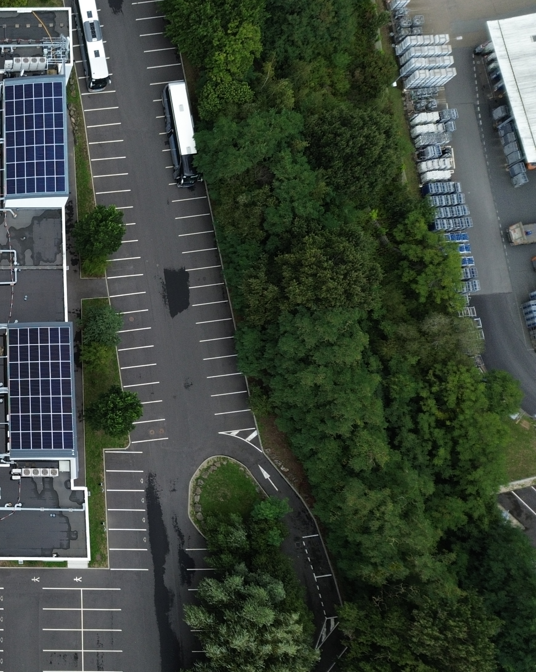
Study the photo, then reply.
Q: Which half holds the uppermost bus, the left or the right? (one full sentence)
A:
The uppermost bus is on the left side of the image.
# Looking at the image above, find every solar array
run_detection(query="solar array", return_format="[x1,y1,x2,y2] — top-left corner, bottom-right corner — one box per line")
[8,326,73,449]
[5,82,65,196]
